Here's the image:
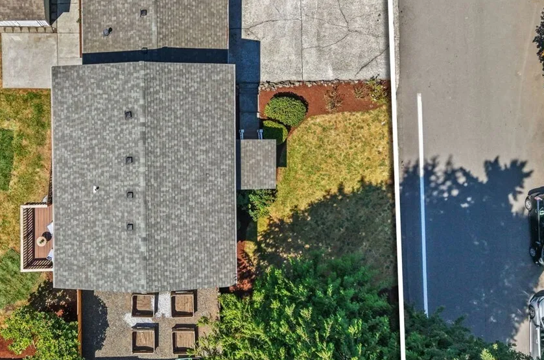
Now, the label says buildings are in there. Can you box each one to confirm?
[0,0,50,26]
[48,61,237,297]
